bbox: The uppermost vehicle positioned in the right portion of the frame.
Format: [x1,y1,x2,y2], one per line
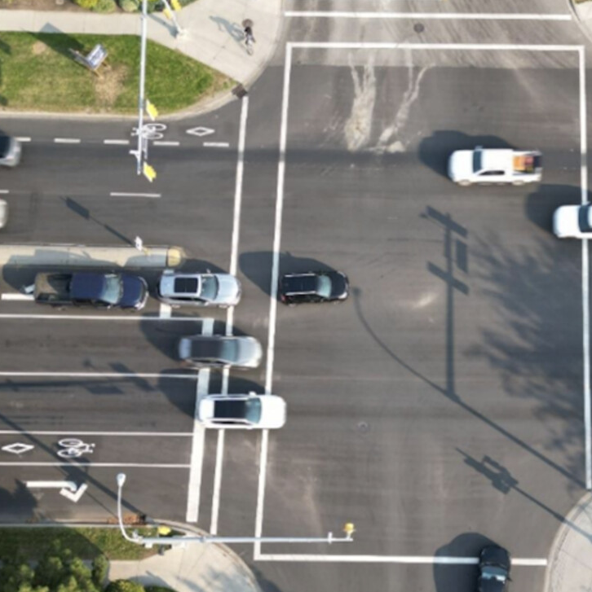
[448,142,543,189]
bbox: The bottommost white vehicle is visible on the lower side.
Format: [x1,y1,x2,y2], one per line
[196,388,288,432]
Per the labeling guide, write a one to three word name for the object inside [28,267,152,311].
truck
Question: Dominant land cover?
paved ground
